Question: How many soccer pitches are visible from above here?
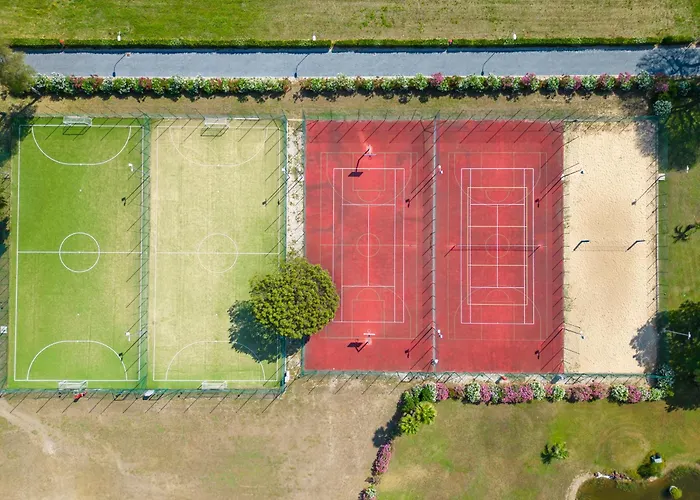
2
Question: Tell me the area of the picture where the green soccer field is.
left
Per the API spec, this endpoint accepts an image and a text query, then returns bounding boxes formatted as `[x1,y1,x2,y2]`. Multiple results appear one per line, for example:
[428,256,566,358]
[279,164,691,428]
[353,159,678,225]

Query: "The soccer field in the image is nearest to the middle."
[148,118,287,389]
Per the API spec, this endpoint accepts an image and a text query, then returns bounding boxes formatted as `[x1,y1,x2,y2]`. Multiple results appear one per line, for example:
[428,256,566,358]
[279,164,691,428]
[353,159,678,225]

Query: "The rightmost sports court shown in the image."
[563,120,658,372]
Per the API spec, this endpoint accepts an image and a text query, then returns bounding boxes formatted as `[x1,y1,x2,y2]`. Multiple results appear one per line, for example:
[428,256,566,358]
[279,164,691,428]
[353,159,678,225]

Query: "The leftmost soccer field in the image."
[8,118,150,389]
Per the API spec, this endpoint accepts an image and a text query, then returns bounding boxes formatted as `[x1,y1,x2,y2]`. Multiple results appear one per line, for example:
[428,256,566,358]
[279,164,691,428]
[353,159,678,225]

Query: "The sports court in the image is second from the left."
[433,120,564,372]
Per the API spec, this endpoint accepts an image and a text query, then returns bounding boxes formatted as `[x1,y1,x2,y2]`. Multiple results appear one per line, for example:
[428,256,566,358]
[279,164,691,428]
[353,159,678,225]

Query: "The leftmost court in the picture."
[305,120,434,372]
